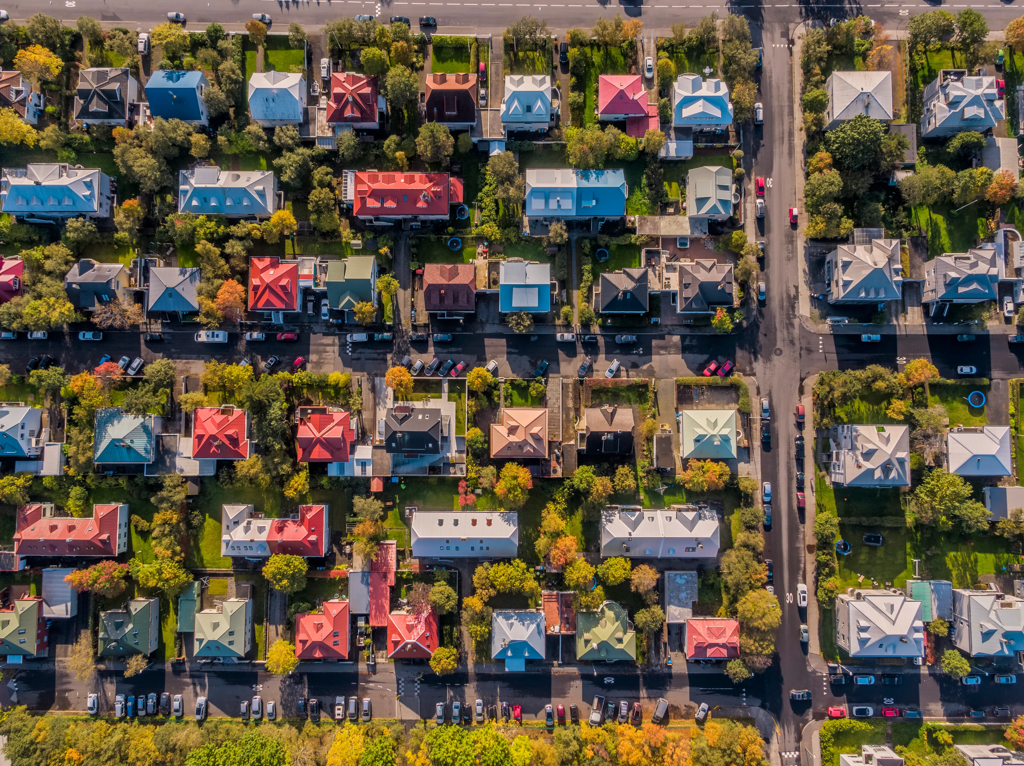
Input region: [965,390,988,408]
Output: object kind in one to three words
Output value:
trampoline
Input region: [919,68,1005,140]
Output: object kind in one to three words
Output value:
house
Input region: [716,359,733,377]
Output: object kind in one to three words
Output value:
car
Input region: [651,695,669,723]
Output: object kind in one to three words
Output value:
vehicle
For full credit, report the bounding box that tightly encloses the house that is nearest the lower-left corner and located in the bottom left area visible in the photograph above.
[0,595,55,664]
